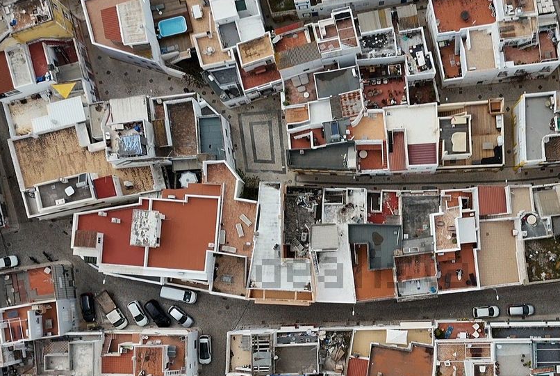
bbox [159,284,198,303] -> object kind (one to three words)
vehicle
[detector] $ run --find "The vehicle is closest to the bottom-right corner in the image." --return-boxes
[506,304,534,318]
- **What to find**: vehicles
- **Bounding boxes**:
[471,305,500,318]
[27,256,39,265]
[80,293,97,321]
[168,303,192,328]
[97,291,126,327]
[128,299,149,327]
[40,251,51,262]
[159,284,198,303]
[145,298,171,328]
[506,304,534,318]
